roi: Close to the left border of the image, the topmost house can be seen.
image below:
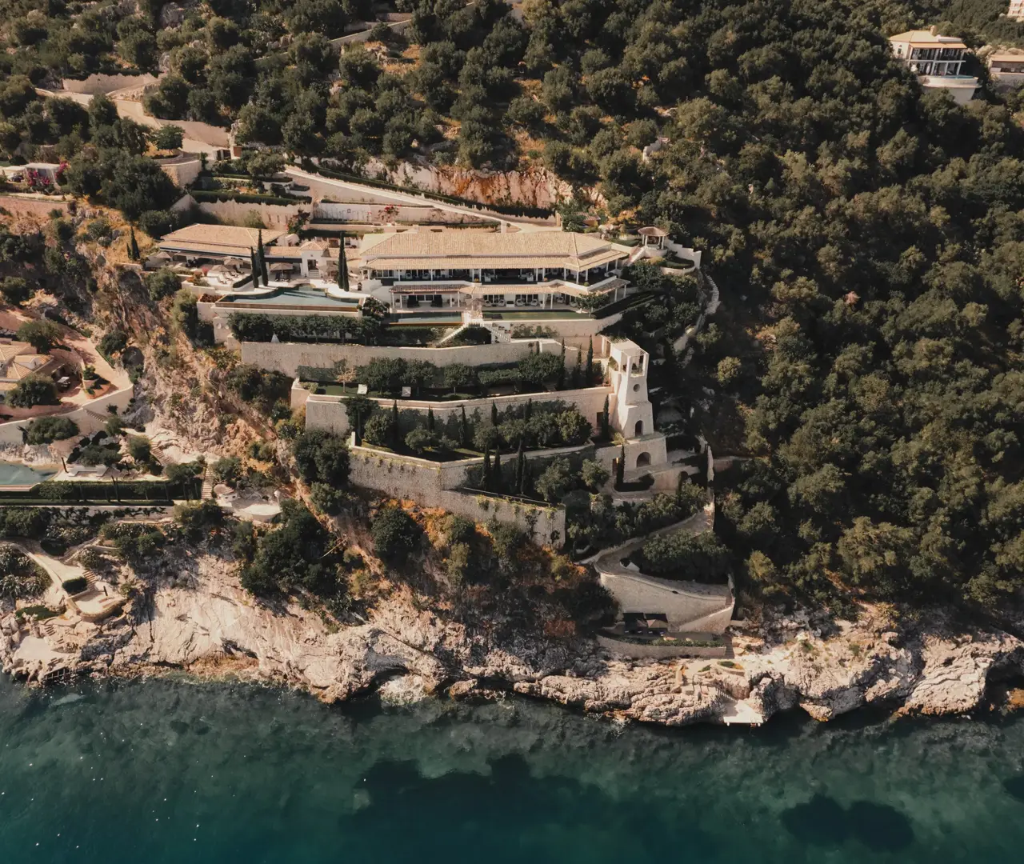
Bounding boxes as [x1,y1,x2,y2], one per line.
[0,165,68,194]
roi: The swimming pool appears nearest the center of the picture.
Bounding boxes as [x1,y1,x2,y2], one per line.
[394,313,464,337]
